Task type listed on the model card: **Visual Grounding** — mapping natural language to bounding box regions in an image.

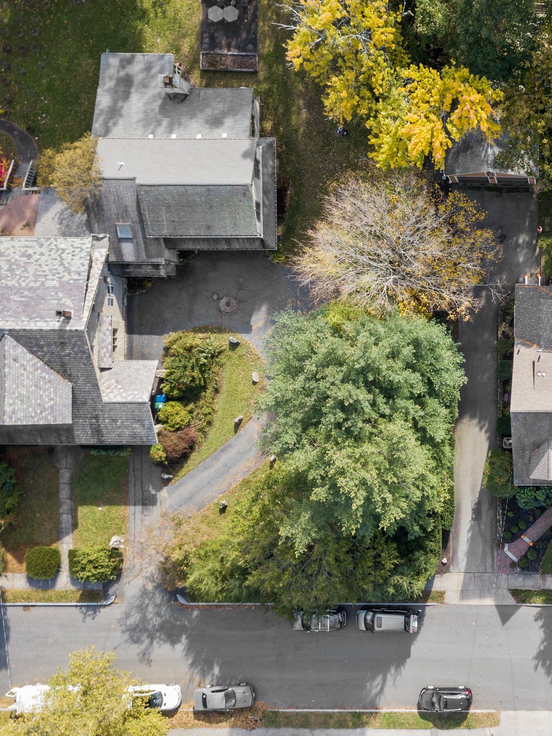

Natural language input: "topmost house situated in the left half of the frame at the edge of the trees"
[89,52,285,278]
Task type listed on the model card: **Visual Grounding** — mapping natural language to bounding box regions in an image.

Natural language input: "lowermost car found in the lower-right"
[418,686,473,717]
